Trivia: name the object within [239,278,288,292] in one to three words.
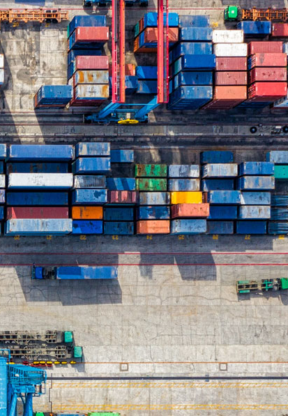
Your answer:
vehicle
